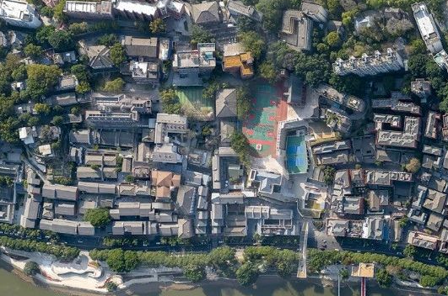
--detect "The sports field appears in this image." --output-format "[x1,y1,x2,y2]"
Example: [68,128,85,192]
[176,82,215,121]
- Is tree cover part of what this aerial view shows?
Yes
